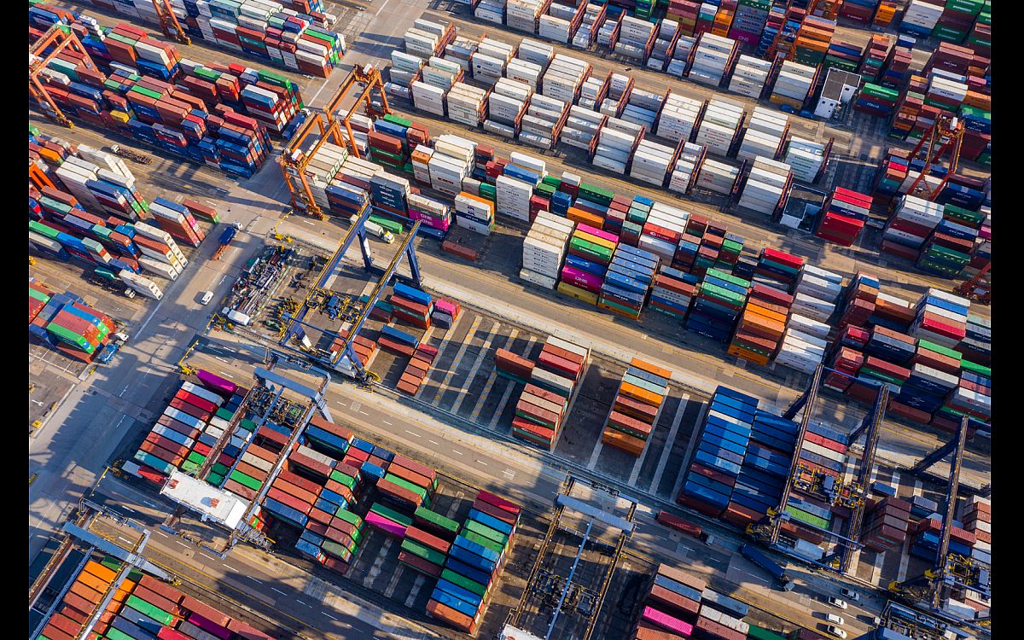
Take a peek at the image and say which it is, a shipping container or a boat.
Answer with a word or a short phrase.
shipping container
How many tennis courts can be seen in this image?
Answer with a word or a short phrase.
none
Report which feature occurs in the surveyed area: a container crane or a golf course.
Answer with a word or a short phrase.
container crane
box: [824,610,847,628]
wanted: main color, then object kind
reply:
white vehicle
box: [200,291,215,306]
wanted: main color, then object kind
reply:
white vehicle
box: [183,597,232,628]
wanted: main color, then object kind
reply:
red shipping container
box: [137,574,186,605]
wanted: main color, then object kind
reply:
red shipping container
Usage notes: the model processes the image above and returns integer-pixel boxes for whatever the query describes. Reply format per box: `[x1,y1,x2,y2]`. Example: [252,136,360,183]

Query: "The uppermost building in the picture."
[813,67,862,119]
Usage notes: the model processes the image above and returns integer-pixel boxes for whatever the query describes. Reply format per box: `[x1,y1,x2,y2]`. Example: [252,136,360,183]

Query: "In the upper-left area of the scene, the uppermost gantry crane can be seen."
[147,0,193,45]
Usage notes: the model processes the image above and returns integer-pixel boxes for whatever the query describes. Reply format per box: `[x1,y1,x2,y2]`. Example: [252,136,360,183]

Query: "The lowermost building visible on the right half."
[780,181,827,229]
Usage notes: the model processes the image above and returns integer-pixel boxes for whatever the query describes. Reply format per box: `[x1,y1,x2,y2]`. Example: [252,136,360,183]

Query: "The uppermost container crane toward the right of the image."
[762,0,822,60]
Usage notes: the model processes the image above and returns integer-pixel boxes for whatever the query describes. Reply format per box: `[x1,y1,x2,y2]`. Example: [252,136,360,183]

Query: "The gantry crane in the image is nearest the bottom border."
[838,600,982,640]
